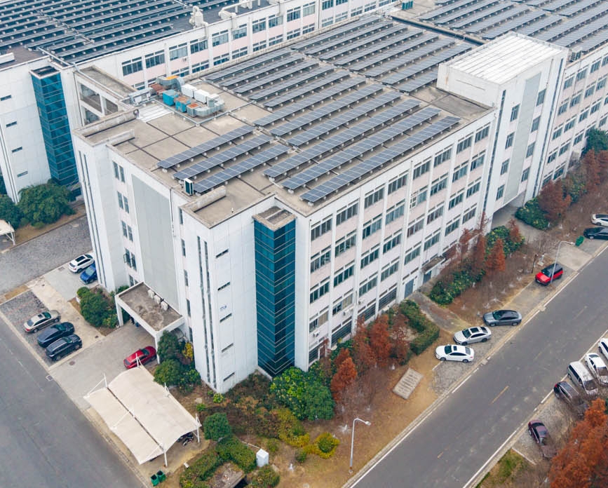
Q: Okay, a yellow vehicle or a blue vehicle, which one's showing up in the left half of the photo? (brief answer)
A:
blue vehicle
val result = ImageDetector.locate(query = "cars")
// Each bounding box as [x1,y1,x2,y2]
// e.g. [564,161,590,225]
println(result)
[563,355,602,395]
[35,323,75,345]
[435,343,476,364]
[549,378,587,414]
[454,328,493,346]
[592,214,608,225]
[595,337,608,359]
[43,334,83,360]
[23,310,62,333]
[533,263,567,284]
[119,345,155,370]
[484,309,522,328]
[584,226,608,239]
[76,264,102,285]
[64,252,96,272]
[523,417,560,457]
